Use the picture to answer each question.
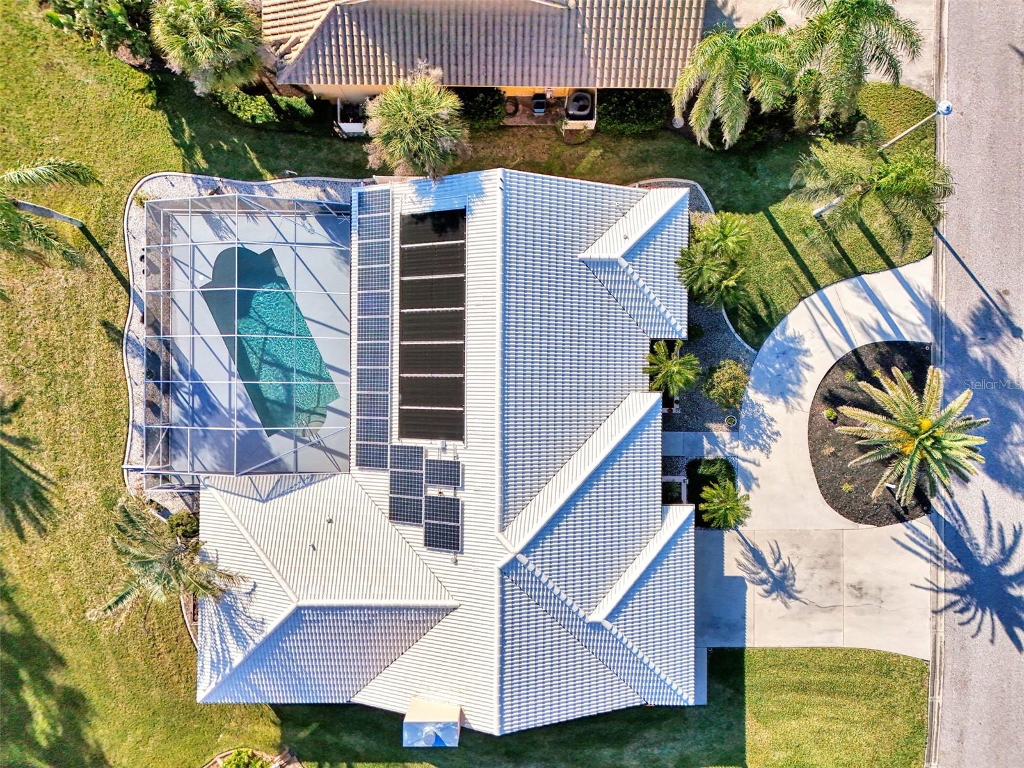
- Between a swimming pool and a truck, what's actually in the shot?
swimming pool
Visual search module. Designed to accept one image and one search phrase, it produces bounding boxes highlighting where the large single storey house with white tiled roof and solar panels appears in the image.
[196,167,698,749]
